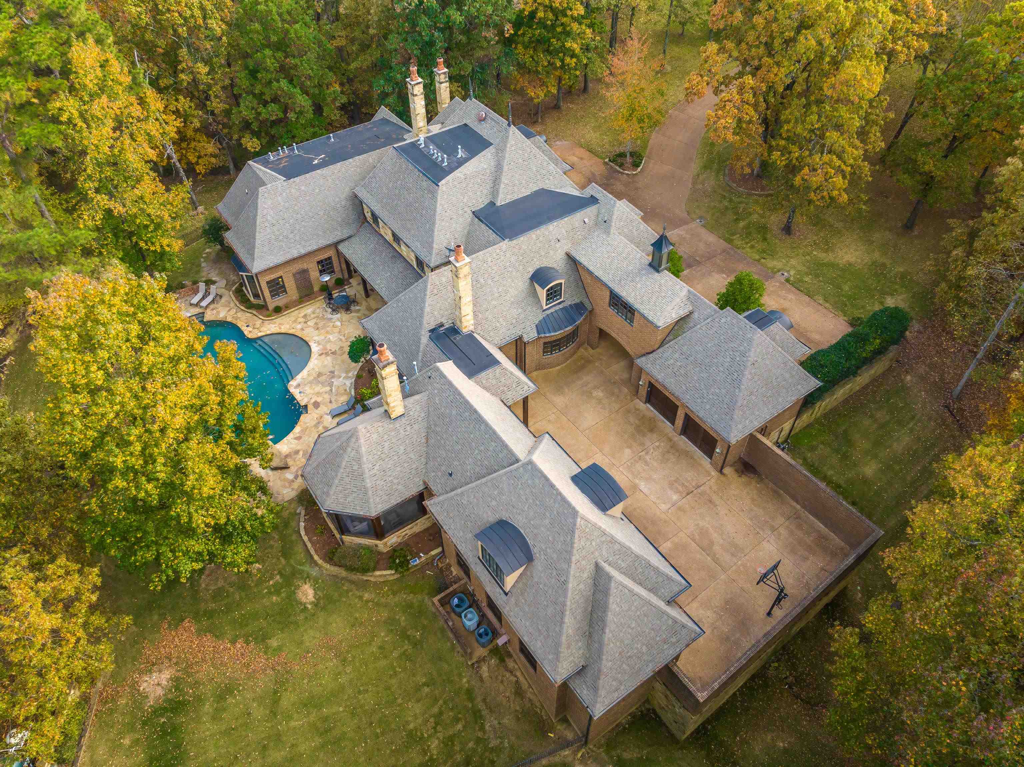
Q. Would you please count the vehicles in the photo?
none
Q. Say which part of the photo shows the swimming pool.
left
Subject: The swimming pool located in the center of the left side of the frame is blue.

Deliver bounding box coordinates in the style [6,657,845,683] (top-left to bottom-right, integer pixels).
[187,313,310,443]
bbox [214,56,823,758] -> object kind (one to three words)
house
